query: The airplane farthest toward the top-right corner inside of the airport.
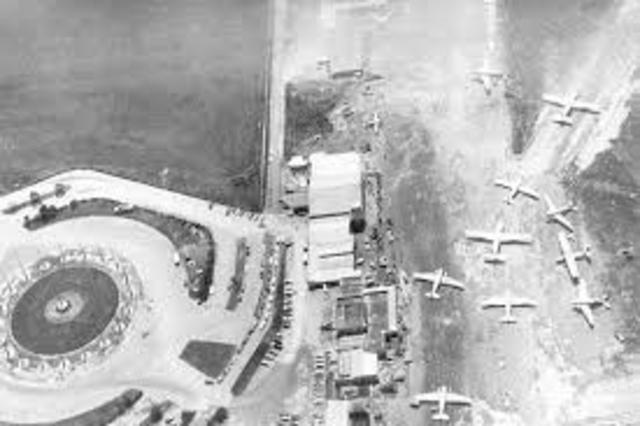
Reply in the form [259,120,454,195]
[543,91,601,122]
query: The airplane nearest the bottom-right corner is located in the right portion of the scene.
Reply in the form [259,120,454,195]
[576,280,609,327]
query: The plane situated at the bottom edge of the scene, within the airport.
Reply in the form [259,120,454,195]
[412,385,472,422]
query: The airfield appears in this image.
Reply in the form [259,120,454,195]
[282,0,640,426]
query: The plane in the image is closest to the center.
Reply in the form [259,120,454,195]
[364,110,381,129]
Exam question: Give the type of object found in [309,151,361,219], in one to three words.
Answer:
hangar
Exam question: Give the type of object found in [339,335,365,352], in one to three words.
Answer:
shed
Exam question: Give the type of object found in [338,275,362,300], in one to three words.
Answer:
building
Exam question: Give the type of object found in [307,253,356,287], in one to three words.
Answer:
hangar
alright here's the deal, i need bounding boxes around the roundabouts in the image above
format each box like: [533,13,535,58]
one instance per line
[0,244,144,379]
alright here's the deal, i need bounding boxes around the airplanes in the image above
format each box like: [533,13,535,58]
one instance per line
[413,268,465,299]
[364,110,381,129]
[482,290,536,323]
[465,220,532,260]
[576,280,609,327]
[315,61,332,71]
[558,235,592,282]
[545,192,578,231]
[412,385,472,422]
[543,91,601,122]
[494,179,539,206]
